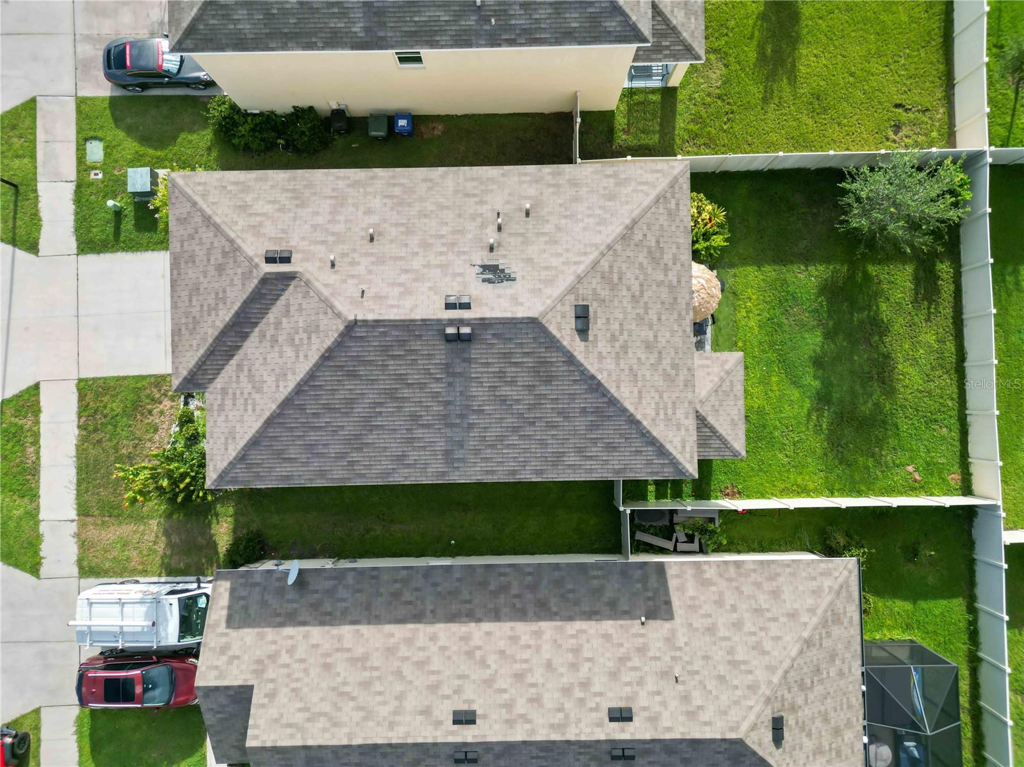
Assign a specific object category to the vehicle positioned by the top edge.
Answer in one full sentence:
Specifically, the vehicle positioned by the top edge is a car.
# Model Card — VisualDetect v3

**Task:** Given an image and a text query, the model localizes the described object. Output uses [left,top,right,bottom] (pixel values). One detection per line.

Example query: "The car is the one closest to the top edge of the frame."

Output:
[103,33,216,96]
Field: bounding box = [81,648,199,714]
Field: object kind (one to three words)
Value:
car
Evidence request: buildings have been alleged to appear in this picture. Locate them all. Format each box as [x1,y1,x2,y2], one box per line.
[167,0,707,114]
[193,550,870,767]
[168,158,748,491]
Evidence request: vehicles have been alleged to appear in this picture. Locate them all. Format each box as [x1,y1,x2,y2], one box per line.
[81,648,199,714]
[103,33,216,96]
[79,582,211,656]
[0,729,28,767]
